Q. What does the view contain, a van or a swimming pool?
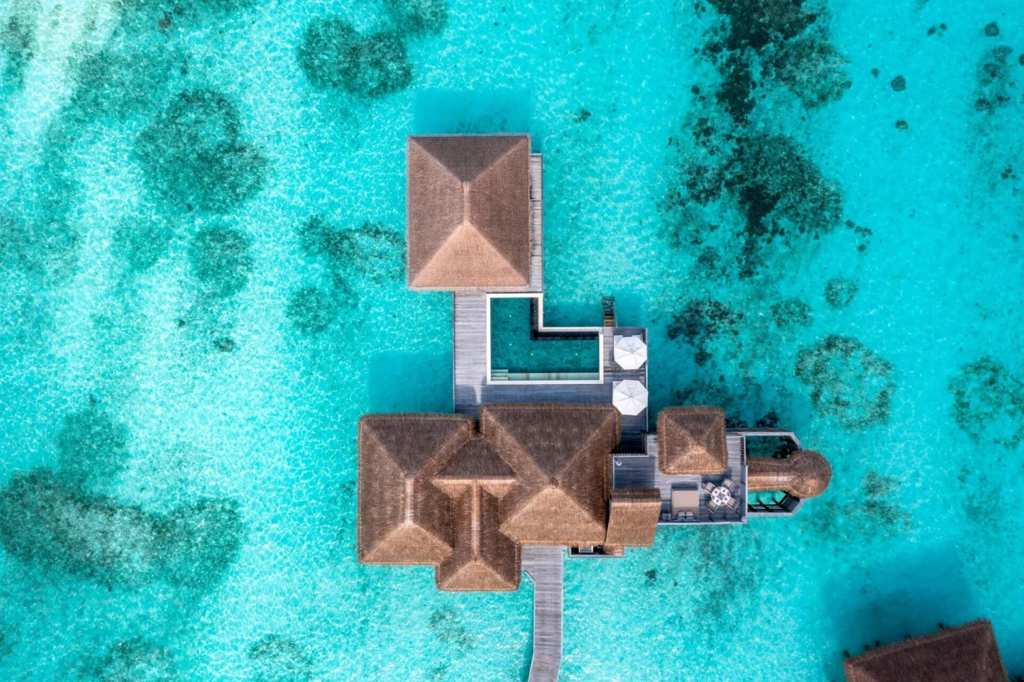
swimming pool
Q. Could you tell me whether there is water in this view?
Yes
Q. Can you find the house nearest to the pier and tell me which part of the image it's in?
bottom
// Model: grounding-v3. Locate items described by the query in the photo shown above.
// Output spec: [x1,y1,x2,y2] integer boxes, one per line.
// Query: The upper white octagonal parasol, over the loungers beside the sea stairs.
[614,336,647,369]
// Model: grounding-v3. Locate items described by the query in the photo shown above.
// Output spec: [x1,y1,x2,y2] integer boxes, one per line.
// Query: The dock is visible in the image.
[521,547,564,682]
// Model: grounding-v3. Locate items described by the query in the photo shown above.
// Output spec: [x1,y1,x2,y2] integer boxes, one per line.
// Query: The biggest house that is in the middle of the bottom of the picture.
[357,401,662,593]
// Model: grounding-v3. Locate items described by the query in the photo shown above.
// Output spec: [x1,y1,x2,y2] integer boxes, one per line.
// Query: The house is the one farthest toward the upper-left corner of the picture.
[405,132,534,294]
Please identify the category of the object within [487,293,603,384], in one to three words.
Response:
swimming pool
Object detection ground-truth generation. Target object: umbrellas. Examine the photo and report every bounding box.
[612,380,647,415]
[614,336,647,369]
